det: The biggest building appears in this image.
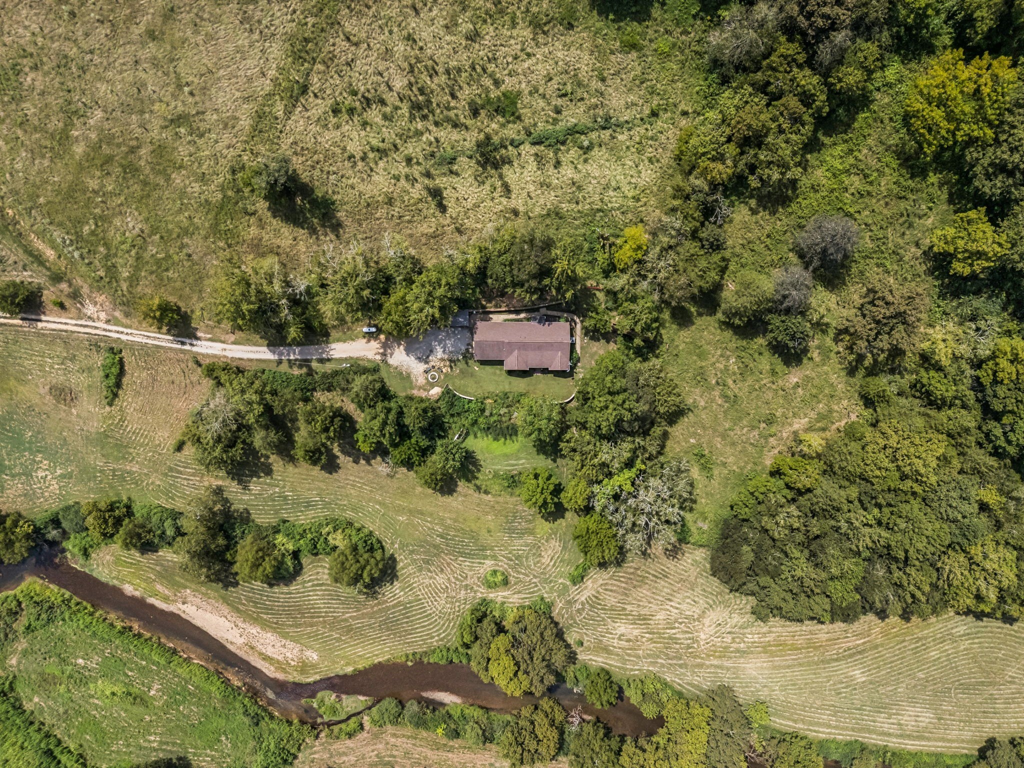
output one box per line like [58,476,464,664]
[473,316,571,373]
